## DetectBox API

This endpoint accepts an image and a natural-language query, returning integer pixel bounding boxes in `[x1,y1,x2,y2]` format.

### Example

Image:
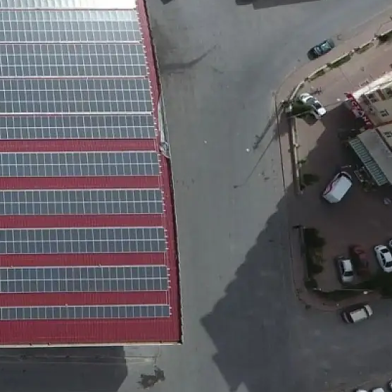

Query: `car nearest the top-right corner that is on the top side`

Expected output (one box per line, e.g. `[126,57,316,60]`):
[304,38,336,60]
